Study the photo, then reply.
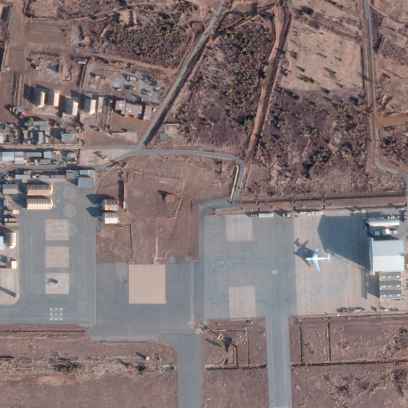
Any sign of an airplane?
Yes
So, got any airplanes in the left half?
No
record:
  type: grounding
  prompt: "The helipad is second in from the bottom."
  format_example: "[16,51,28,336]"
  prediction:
[46,272,68,294]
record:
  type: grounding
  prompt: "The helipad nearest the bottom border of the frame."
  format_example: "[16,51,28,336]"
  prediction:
[49,308,63,321]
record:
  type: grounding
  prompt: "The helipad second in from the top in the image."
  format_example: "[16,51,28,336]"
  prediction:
[46,247,68,267]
